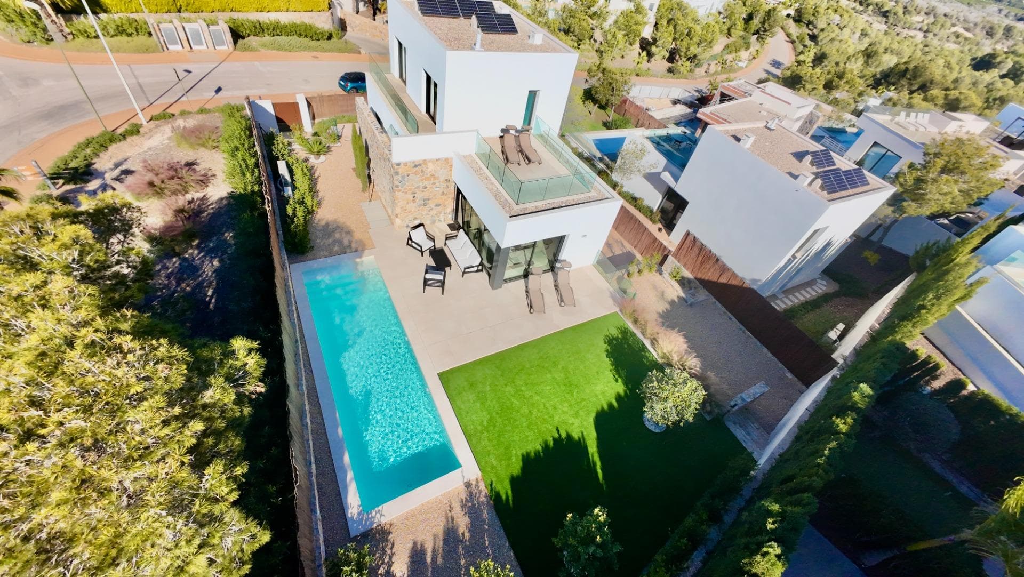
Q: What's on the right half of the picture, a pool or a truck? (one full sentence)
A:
The one visible on the right half of the picture is a pool.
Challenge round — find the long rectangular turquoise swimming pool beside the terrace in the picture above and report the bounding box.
[289,247,481,536]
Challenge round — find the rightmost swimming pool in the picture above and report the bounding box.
[816,119,856,154]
